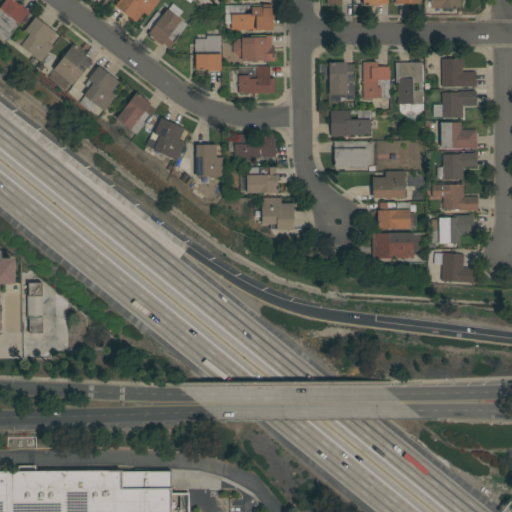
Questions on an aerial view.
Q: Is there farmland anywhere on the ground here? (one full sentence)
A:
No, farmland can't be seen anywhere here.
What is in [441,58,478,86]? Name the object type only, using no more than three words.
house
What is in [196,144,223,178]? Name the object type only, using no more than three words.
house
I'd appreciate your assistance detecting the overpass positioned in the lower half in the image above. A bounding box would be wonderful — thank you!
[176,382,424,420]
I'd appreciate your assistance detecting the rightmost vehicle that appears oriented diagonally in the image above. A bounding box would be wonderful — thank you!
[394,446,424,470]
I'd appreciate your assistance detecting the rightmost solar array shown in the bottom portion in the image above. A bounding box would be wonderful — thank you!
[67,493,86,511]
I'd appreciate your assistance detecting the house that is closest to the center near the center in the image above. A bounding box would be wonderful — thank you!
[254,198,295,230]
